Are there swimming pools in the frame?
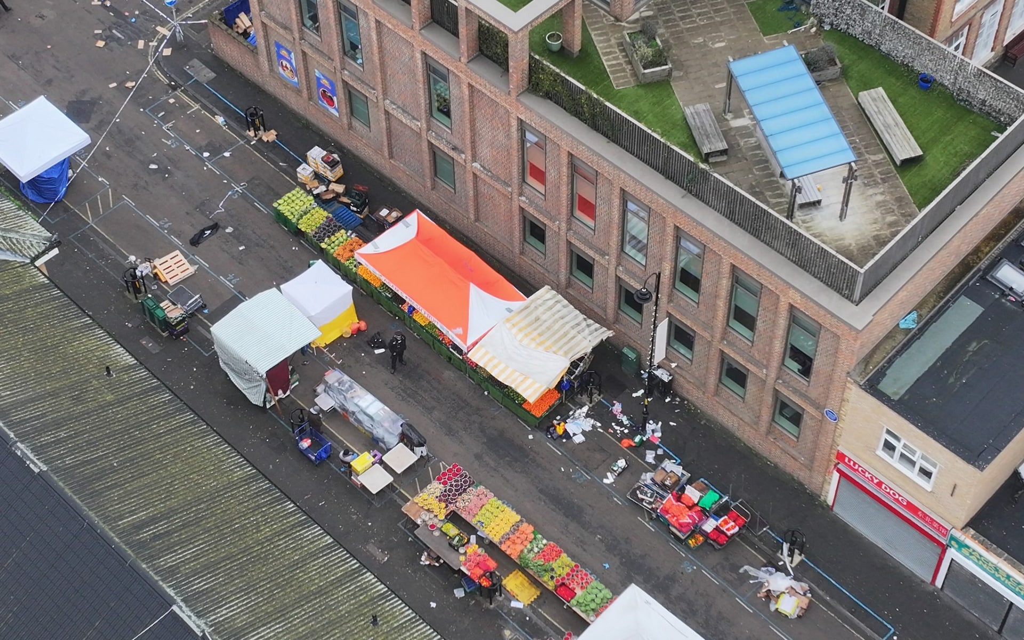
No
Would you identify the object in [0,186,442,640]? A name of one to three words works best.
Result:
building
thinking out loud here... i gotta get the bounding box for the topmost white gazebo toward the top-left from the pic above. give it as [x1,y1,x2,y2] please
[0,99,100,224]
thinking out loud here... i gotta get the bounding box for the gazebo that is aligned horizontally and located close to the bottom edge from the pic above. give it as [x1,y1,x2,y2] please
[580,585,706,640]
